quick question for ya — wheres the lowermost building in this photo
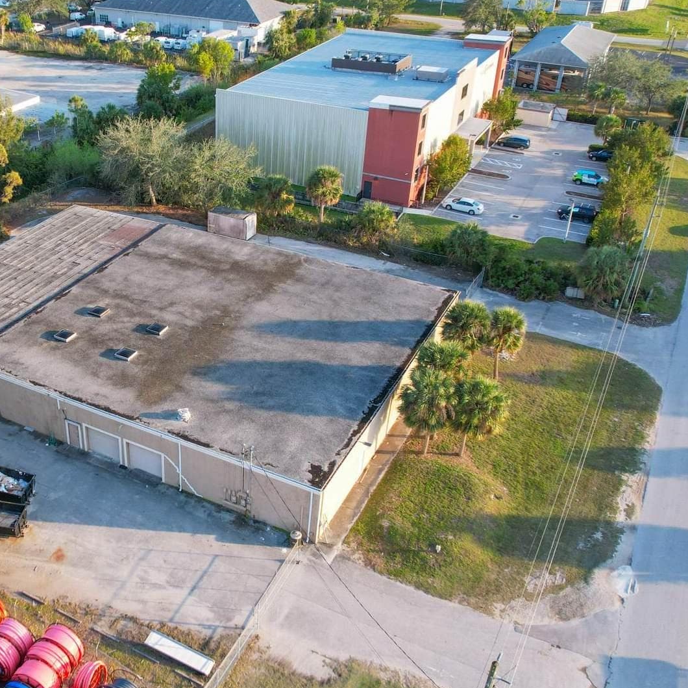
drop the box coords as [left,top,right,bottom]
[0,205,458,543]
